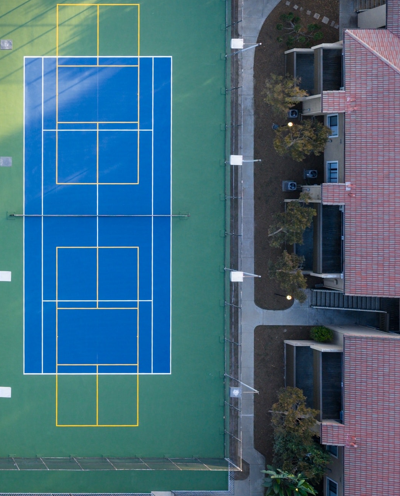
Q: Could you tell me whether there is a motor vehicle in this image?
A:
No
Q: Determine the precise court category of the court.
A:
tennis court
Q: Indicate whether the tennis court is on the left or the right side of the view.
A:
left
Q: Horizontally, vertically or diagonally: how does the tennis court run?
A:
vertically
